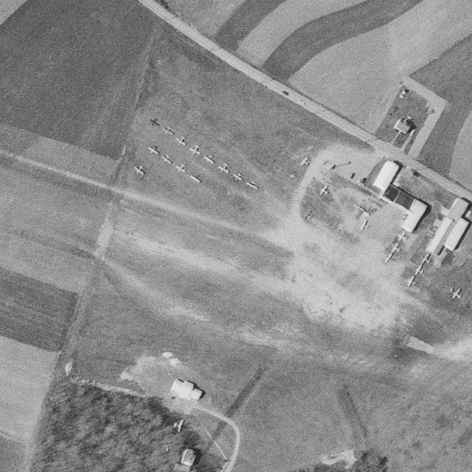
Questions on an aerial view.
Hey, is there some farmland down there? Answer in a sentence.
Yes, there is farmland in the image.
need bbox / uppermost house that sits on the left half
[170,380,202,400]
